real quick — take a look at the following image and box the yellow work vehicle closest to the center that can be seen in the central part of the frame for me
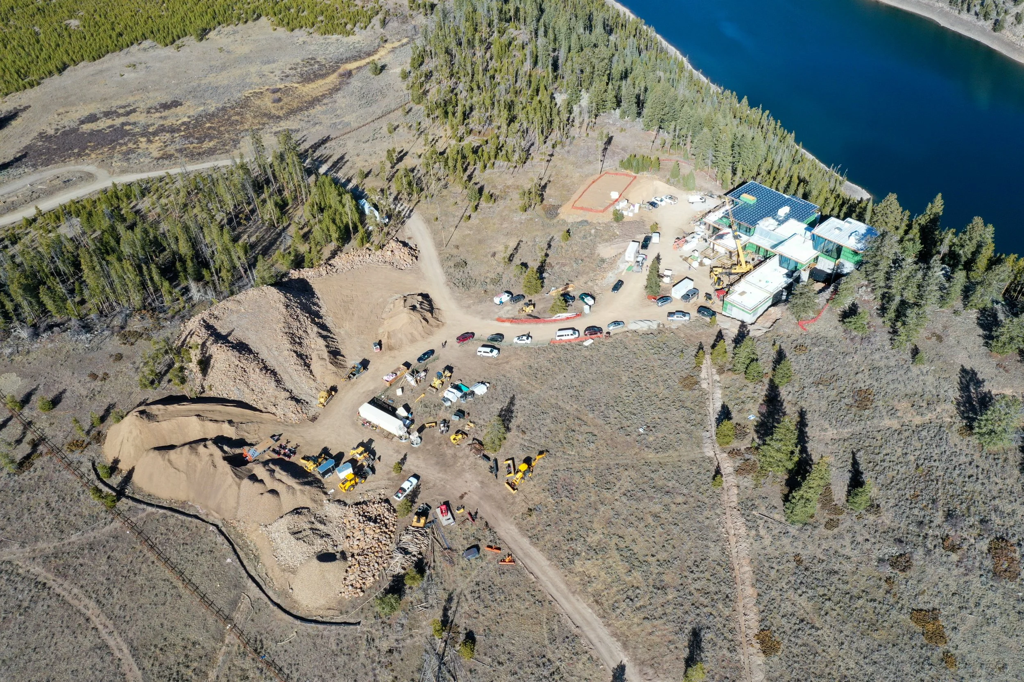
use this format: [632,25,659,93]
[517,301,536,313]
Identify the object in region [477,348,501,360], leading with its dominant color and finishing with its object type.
white vehicle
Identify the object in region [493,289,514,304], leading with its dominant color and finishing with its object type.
white vehicle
